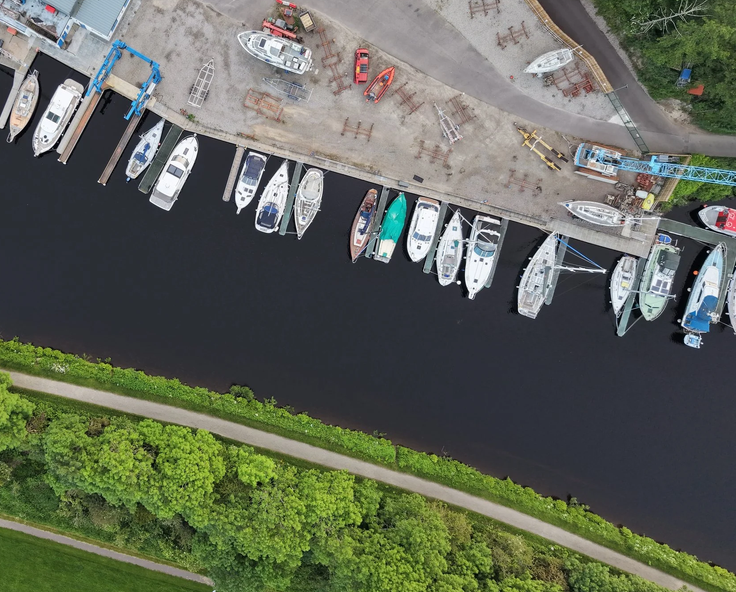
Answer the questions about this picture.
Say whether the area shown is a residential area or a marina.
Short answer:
marina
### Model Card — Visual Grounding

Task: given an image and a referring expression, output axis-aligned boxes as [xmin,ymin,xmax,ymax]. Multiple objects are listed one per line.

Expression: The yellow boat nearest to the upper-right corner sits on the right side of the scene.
[642,194,655,210]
